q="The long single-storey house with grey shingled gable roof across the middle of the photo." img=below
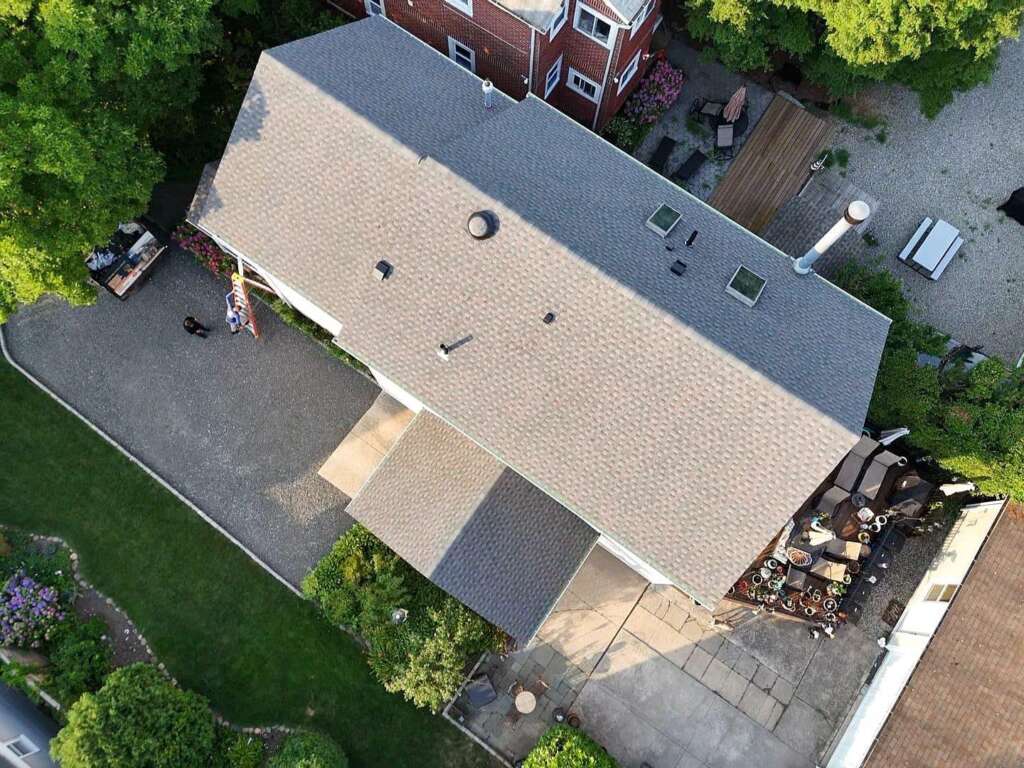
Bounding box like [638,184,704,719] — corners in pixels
[187,11,892,646]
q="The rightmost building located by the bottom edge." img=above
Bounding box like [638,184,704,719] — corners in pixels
[814,495,1024,768]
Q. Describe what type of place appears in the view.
residential area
